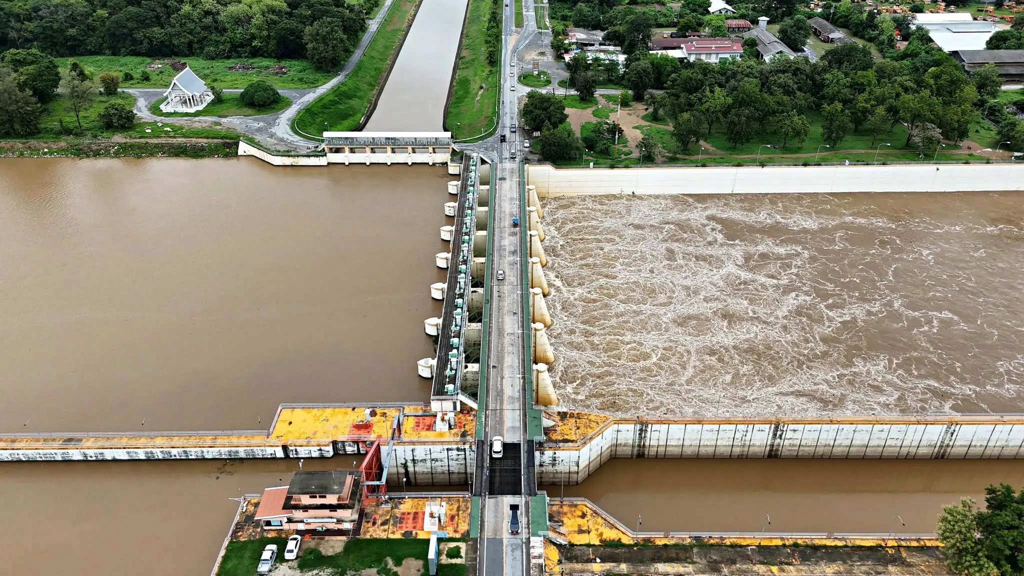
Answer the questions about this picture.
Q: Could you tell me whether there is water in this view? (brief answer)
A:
Yes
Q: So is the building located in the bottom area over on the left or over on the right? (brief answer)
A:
left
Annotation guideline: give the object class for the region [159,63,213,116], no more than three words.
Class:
building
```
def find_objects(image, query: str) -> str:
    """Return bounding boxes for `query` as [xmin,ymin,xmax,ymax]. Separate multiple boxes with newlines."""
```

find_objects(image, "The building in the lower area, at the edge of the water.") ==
[253,471,364,541]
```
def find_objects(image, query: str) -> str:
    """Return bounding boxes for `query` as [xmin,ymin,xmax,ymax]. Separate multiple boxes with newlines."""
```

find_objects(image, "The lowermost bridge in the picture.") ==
[458,490,549,576]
